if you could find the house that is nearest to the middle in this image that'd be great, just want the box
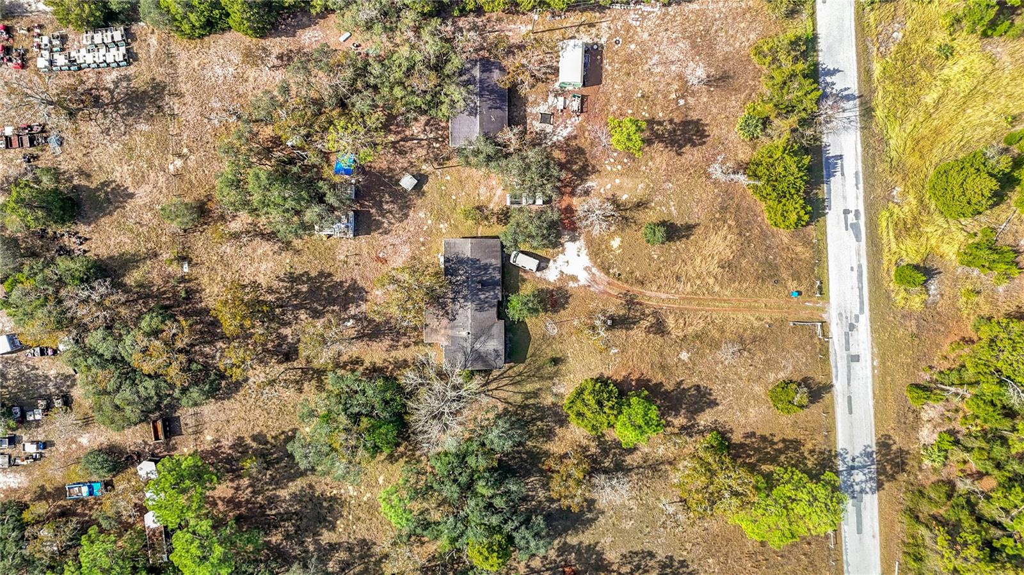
[424,238,505,370]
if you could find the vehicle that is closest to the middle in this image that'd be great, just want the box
[509,252,541,272]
